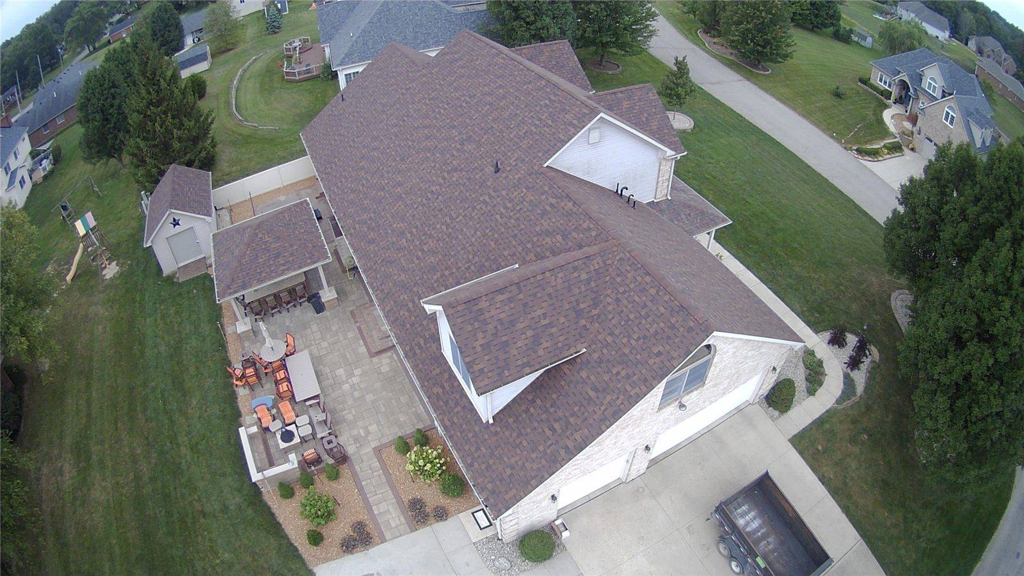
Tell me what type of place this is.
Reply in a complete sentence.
The area seen from above is a residential area.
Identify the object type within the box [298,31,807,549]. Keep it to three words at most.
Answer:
house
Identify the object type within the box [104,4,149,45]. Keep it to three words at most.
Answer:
house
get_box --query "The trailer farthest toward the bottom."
[707,467,842,576]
